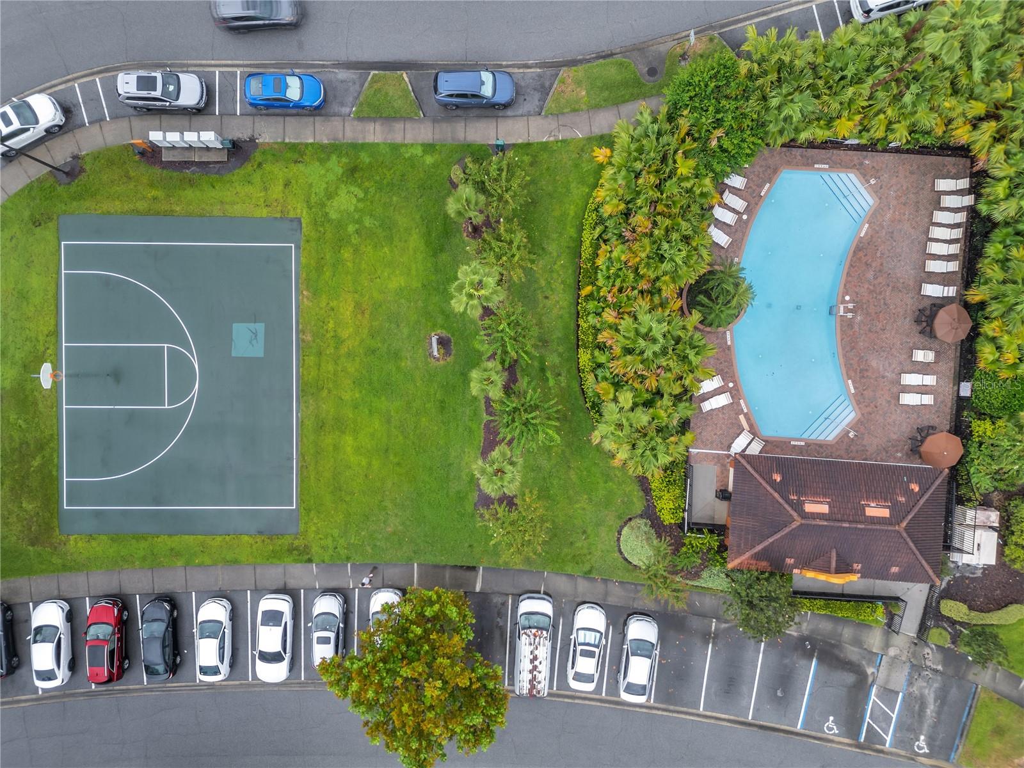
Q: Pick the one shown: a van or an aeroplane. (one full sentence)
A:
Visible in the photo is a van.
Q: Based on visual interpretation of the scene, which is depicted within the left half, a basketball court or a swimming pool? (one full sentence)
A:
The feature located within the left half is a basketball court.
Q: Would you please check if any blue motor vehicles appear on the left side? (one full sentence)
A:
Yes, there is a blue motor vehicle on the left side.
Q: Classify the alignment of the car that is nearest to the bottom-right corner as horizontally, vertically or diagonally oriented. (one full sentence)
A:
The car that is nearest to the bottom-right corner runs vertically in the image.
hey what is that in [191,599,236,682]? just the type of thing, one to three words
car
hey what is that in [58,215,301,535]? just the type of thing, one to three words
basketball court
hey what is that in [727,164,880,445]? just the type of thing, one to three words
swimming pool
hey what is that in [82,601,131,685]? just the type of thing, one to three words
car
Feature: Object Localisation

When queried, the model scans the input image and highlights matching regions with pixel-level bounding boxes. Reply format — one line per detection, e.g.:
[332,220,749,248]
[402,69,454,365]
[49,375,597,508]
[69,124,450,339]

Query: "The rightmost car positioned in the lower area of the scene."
[614,615,658,700]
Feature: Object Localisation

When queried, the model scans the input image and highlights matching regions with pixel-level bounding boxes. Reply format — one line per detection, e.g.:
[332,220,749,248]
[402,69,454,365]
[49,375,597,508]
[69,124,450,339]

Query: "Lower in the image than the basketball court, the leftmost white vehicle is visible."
[27,601,77,687]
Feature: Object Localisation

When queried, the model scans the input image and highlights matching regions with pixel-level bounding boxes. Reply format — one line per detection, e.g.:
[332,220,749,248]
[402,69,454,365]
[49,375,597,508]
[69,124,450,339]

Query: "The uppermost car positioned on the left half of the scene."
[219,0,302,34]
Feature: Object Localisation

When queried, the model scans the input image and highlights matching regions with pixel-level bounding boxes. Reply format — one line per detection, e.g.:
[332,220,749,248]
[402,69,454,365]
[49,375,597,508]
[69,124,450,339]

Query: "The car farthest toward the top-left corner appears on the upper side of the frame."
[0,101,68,161]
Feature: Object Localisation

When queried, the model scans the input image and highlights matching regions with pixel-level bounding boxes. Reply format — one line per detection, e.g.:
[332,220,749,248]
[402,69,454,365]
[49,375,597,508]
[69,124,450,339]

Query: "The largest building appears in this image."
[723,453,952,587]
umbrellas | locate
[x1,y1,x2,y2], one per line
[921,302,969,344]
[911,428,959,467]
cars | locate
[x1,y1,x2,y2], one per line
[253,602,296,686]
[435,66,516,111]
[137,599,183,681]
[847,0,922,24]
[0,101,68,161]
[306,595,348,674]
[27,601,77,687]
[0,600,21,682]
[568,604,608,689]
[219,0,302,34]
[191,599,236,682]
[243,70,323,113]
[117,67,208,114]
[614,615,658,700]
[82,601,131,685]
